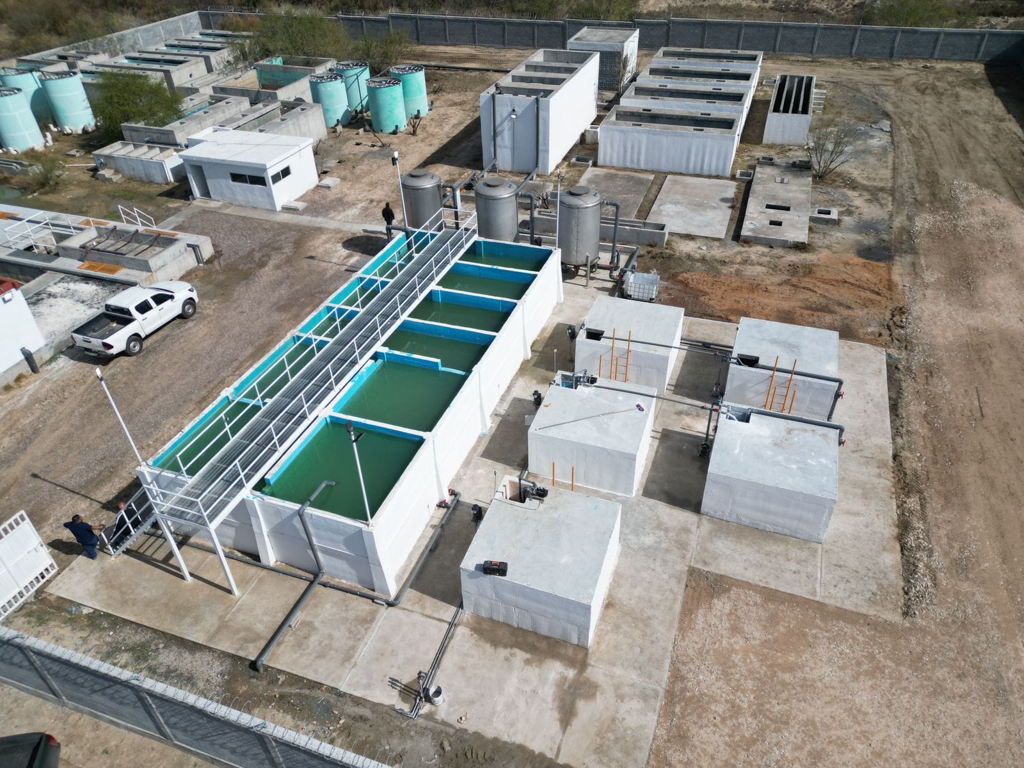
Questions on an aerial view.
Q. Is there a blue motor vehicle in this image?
No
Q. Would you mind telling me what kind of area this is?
industrial area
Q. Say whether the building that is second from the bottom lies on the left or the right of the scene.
left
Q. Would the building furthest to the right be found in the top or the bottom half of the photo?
top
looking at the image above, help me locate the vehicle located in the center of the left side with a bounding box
[75,284,202,362]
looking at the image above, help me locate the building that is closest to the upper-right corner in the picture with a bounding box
[567,26,640,90]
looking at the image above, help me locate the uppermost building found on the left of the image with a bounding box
[176,125,319,211]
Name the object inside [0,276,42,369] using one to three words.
building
